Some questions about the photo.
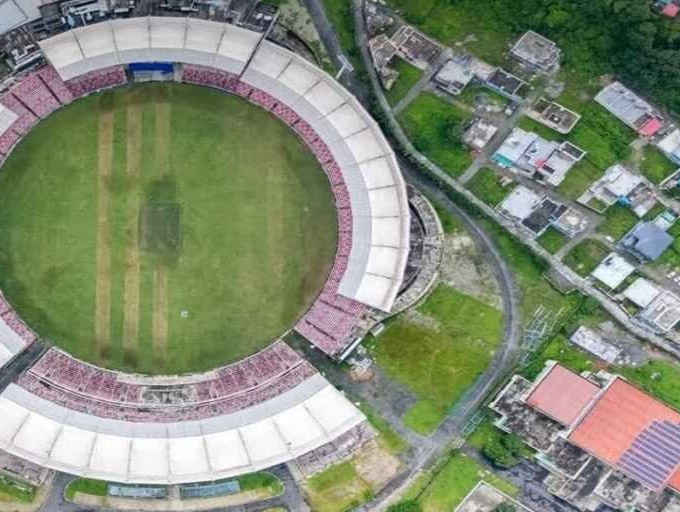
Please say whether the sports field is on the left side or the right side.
left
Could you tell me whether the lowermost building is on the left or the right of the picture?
right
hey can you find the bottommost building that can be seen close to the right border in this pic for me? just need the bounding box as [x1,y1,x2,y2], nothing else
[485,360,680,512]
